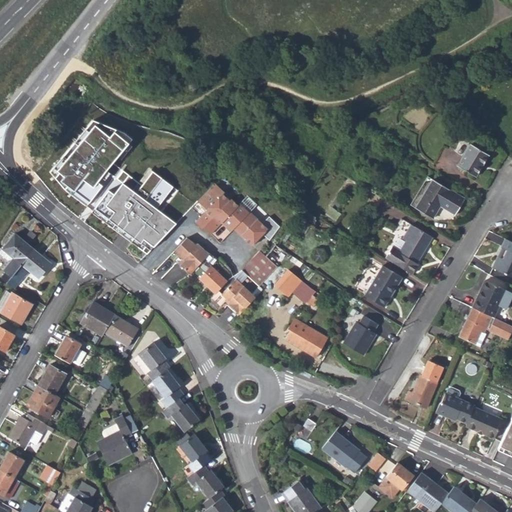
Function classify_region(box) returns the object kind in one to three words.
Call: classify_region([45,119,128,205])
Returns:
building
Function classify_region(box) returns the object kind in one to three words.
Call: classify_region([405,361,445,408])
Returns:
house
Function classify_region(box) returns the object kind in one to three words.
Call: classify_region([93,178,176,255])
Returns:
building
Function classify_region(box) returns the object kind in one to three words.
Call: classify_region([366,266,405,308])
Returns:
house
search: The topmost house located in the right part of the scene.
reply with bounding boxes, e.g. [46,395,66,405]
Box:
[458,144,491,178]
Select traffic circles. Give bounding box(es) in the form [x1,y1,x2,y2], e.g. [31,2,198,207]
[232,374,263,406]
